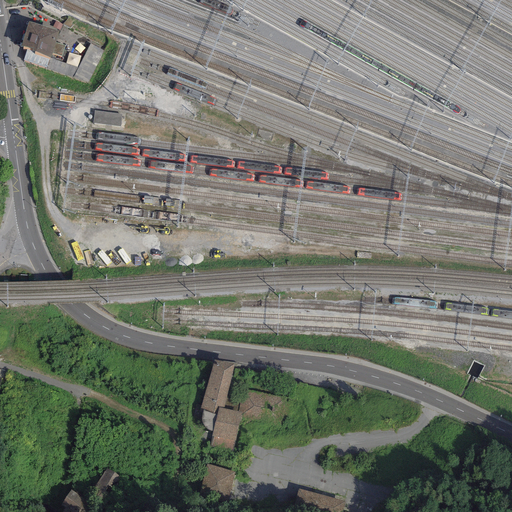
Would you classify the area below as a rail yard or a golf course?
rail yard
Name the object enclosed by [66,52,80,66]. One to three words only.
umbrella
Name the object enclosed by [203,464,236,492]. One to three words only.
house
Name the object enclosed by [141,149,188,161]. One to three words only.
rail car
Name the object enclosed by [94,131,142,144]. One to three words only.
rail car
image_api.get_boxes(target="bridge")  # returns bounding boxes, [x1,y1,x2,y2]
[0,266,113,318]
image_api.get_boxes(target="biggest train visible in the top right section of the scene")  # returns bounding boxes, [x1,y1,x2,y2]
[296,16,462,112]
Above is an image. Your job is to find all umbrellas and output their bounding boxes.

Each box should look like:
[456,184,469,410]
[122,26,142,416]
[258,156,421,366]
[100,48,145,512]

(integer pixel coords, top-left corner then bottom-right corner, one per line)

[66,52,80,66]
[74,42,86,54]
